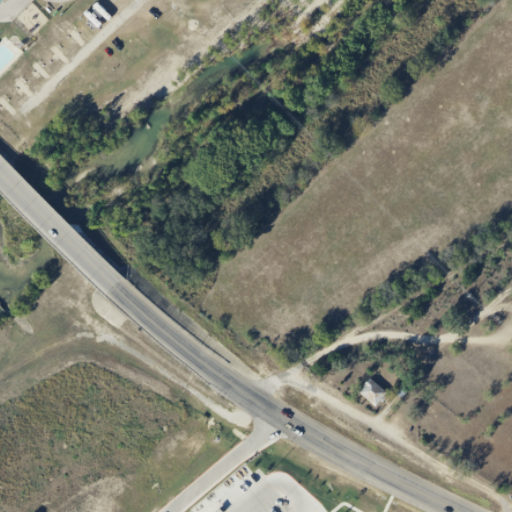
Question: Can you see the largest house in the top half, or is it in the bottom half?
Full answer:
You can find the largest house in the bottom half.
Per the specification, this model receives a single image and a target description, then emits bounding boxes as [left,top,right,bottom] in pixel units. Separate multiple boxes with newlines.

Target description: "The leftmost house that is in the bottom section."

[361,380,386,405]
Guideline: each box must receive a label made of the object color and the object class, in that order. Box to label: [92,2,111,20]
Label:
white vehicle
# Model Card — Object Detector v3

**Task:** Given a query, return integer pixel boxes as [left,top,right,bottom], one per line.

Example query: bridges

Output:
[0,155,122,296]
